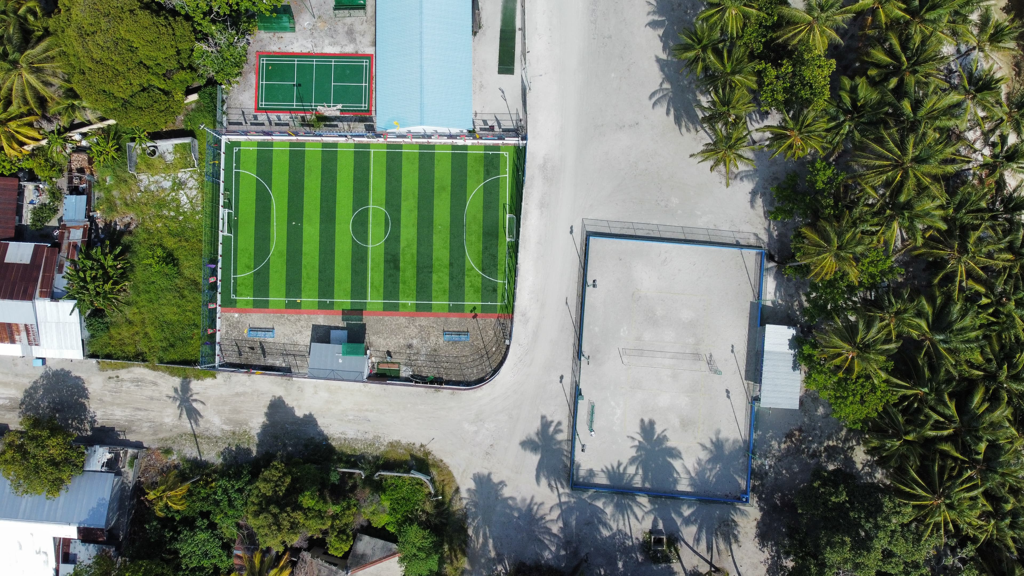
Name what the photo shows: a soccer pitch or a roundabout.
soccer pitch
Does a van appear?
No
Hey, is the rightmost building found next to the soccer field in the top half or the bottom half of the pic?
top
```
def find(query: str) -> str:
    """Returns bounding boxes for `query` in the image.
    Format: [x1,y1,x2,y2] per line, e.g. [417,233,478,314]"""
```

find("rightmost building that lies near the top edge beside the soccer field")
[375,0,473,136]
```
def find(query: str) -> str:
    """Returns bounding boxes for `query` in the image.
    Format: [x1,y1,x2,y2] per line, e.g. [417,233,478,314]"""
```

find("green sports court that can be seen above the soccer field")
[255,52,373,115]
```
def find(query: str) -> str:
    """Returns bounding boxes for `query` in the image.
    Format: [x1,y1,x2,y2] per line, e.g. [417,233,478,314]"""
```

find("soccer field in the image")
[221,141,524,313]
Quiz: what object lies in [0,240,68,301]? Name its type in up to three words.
house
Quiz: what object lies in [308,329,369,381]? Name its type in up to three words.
building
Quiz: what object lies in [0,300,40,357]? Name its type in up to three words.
house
